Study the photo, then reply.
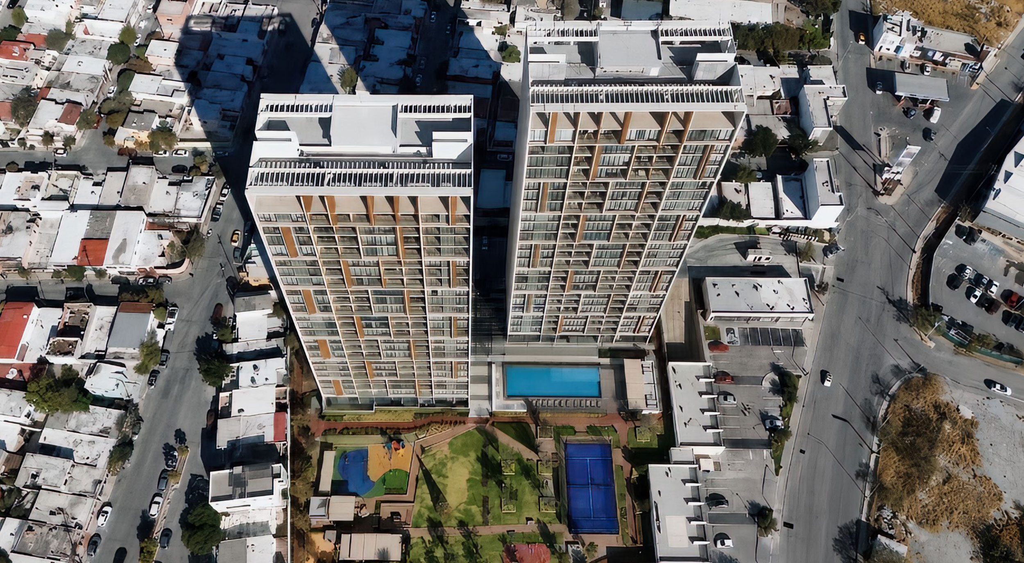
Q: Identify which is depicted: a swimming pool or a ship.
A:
swimming pool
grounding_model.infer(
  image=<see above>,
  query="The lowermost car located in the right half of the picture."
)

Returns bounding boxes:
[712,537,735,549]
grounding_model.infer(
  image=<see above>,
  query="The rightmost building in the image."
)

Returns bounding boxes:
[955,127,1024,277]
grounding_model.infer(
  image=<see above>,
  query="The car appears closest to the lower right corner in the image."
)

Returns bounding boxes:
[989,380,1010,394]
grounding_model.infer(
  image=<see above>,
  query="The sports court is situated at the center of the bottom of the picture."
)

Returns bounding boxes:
[563,438,622,536]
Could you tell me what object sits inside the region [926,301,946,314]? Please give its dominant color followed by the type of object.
black vehicle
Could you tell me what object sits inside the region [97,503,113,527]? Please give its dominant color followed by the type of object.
white car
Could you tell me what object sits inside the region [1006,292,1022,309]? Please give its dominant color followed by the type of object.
red car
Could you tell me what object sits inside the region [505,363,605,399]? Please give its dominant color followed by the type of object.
blue swimming pool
